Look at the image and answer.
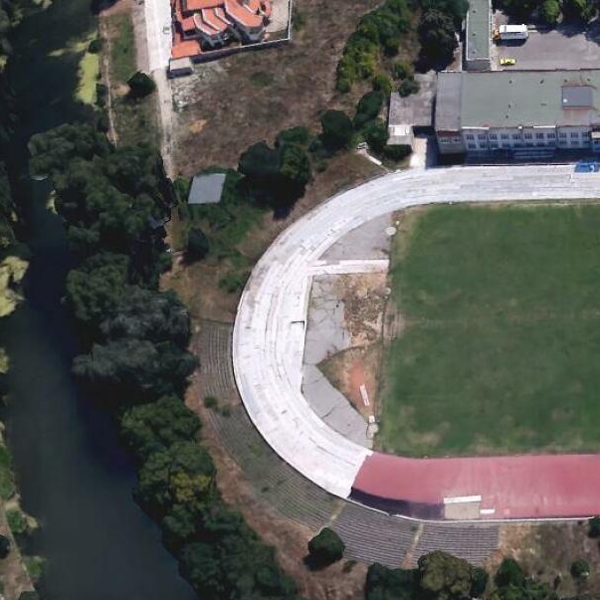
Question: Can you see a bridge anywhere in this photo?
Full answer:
No, there is no bridge in the image.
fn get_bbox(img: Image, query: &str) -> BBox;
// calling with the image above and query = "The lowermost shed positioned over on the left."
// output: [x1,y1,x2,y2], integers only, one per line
[188,173,228,209]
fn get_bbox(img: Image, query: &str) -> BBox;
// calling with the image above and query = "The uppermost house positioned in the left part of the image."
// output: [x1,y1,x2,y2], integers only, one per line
[172,0,273,61]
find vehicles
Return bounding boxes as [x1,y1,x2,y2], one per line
[496,27,528,43]
[500,56,516,65]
